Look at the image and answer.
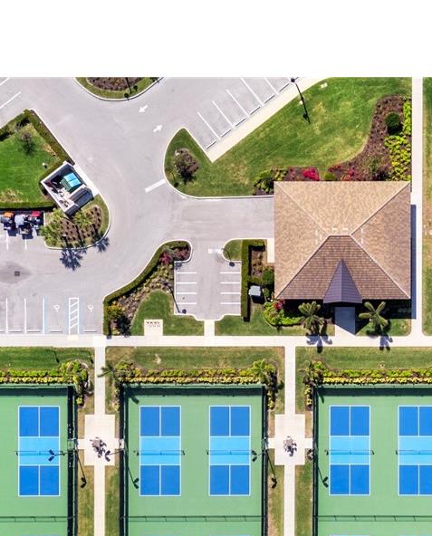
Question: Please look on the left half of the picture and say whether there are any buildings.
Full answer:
No, there is no building on the left half of the picture.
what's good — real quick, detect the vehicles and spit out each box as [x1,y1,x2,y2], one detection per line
[28,211,42,230]
[0,213,15,231]
[14,214,28,231]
